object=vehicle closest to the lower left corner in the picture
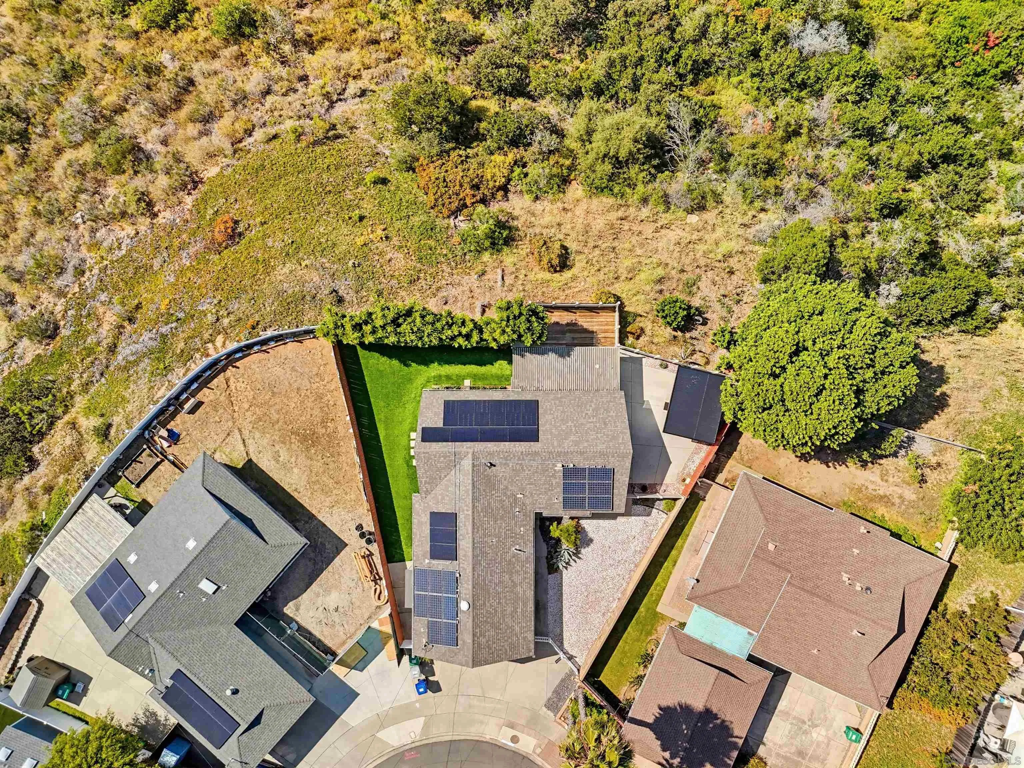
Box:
[155,732,197,768]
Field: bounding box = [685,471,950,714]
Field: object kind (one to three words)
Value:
house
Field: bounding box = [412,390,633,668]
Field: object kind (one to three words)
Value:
house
